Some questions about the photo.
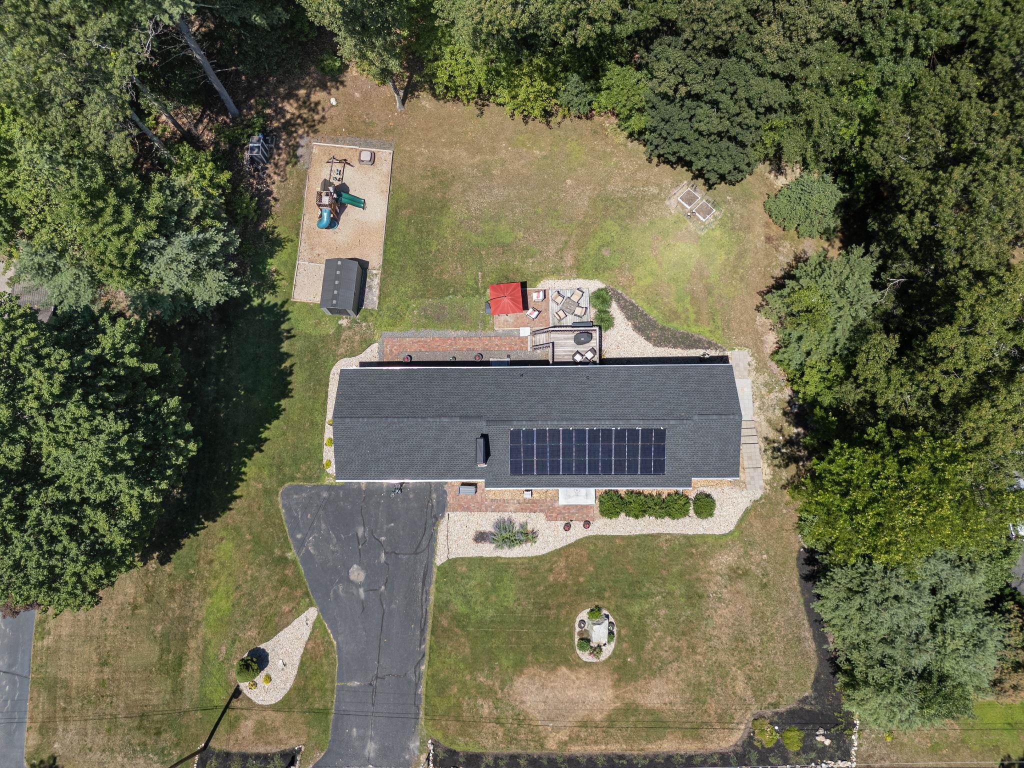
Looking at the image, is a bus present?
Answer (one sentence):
No, the frame has no bus in it.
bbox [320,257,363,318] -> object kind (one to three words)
shed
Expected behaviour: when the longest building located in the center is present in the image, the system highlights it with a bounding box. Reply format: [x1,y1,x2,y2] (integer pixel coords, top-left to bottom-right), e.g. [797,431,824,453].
[332,362,742,491]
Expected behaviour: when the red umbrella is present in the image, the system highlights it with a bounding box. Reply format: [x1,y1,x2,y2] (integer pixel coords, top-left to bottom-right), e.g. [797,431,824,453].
[485,282,523,315]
